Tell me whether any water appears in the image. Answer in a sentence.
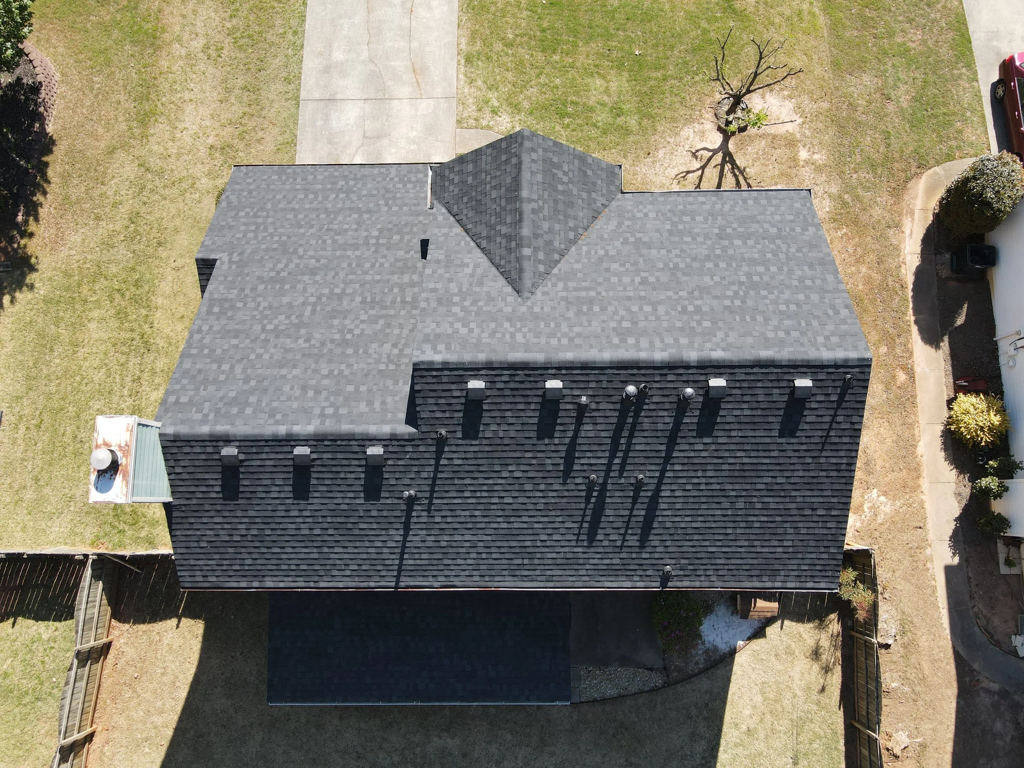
No, there is no water in the image.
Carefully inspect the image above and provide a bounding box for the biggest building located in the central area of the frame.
[85,128,874,711]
